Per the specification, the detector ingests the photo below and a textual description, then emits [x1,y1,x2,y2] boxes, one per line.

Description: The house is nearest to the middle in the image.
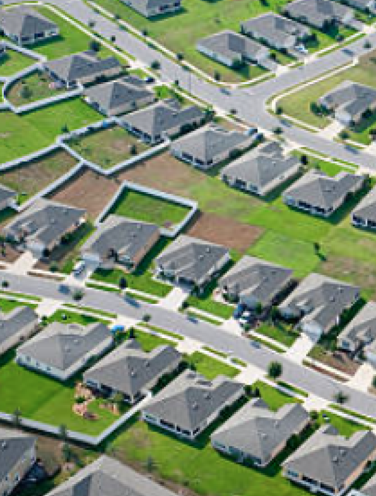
[144,234,229,294]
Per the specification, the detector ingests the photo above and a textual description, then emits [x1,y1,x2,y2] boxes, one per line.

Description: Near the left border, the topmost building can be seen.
[5,6,58,44]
